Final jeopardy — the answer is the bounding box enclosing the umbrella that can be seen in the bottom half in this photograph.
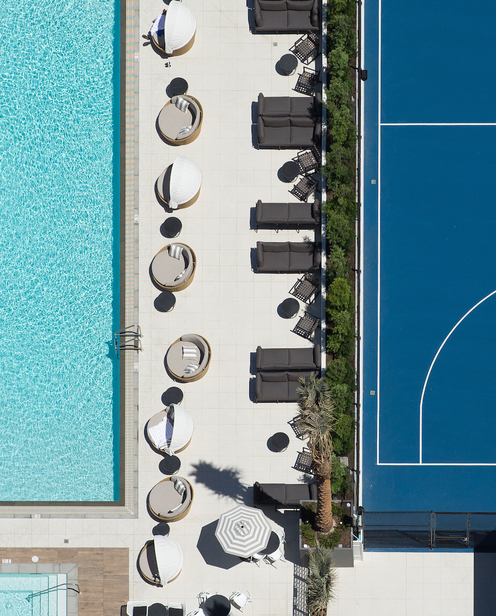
[214,506,270,563]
